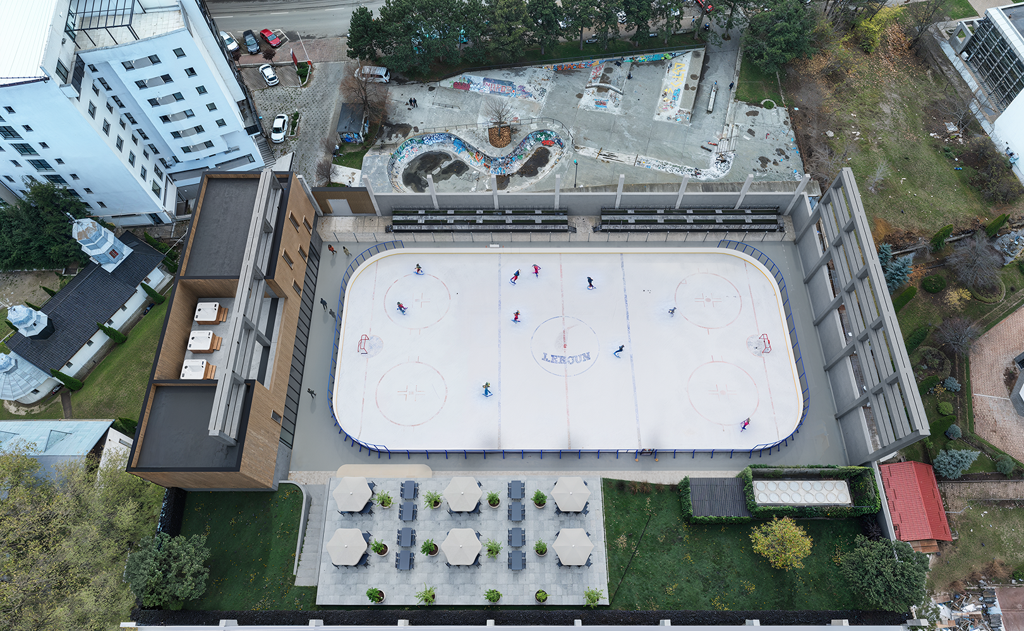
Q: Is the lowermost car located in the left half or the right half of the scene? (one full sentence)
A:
The lowermost car sits on the left side.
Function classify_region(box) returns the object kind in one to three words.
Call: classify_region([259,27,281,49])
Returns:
car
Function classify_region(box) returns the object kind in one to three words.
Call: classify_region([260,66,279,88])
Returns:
car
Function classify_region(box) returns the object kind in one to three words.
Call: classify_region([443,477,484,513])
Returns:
umbrella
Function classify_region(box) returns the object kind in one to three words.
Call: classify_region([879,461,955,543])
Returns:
shed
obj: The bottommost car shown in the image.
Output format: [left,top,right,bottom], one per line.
[270,116,290,142]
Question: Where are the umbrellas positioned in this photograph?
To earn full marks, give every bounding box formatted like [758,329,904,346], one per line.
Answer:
[327,529,370,567]
[551,528,594,567]
[332,478,374,513]
[443,477,484,513]
[550,477,591,513]
[440,529,483,567]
